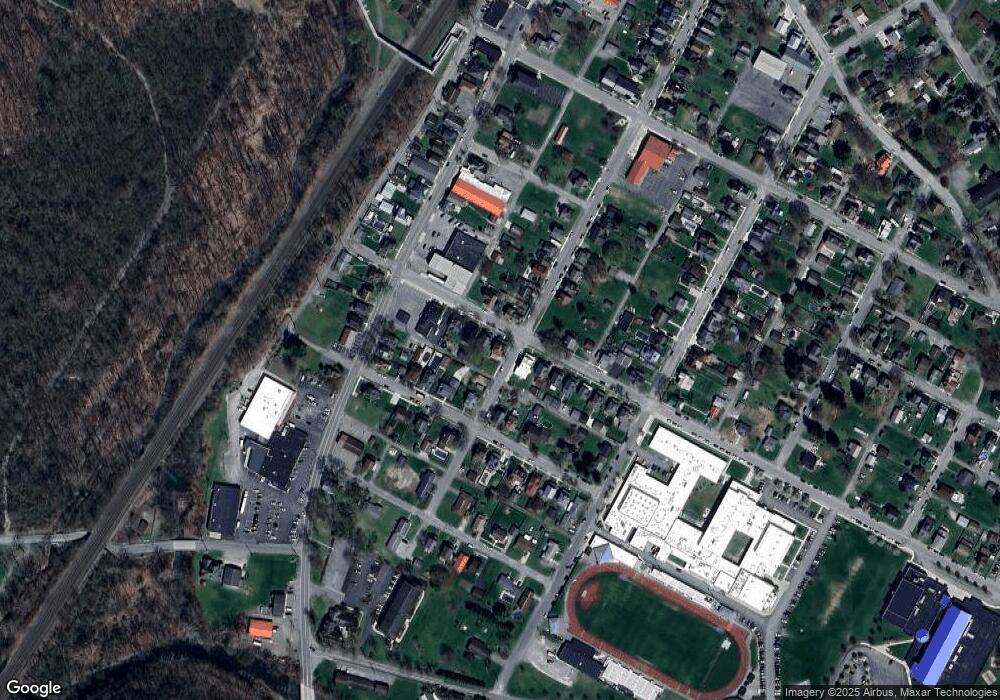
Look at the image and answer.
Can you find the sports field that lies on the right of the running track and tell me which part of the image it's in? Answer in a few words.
bottom right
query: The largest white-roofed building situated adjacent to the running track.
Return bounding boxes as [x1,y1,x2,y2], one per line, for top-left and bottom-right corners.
[605,427,797,612]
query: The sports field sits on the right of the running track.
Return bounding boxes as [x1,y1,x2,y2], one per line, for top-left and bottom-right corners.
[781,522,900,700]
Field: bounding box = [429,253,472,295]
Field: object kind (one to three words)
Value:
building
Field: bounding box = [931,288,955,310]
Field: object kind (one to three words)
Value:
house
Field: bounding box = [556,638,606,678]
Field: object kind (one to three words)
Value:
building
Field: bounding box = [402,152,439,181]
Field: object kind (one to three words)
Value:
house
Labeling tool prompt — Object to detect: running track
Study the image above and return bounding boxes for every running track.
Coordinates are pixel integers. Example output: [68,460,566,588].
[564,561,748,700]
